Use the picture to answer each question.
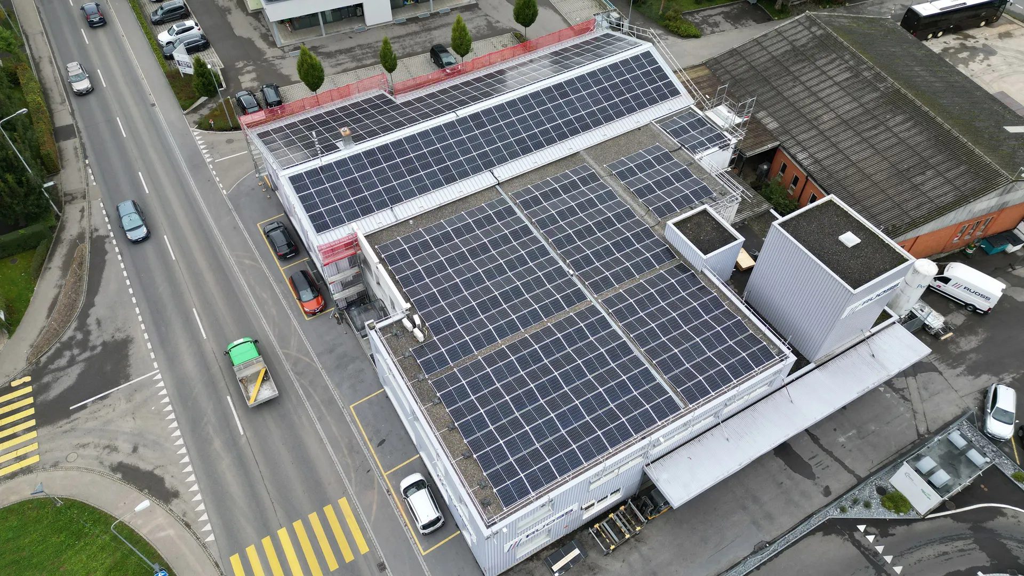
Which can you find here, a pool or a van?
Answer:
van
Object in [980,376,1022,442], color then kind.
white car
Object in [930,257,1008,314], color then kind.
white van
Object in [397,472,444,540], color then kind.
white car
